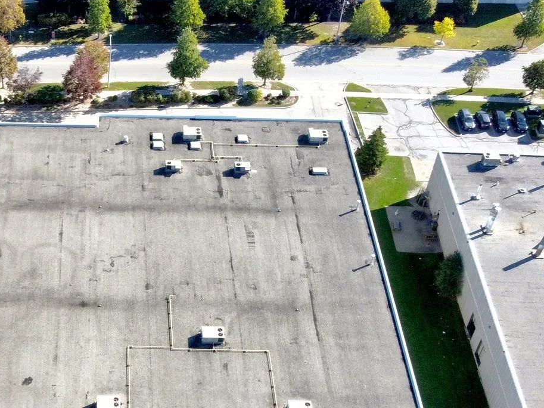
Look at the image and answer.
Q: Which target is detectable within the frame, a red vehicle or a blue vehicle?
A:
blue vehicle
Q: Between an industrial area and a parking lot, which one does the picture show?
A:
industrial area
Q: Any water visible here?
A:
No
